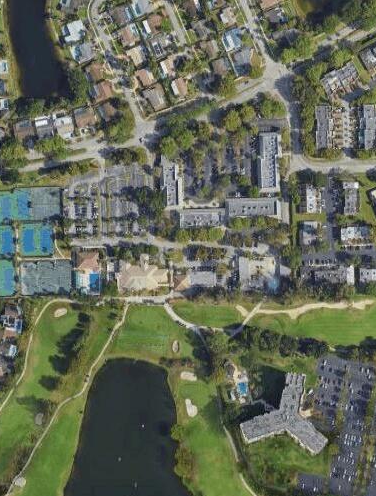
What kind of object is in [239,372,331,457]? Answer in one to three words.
building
